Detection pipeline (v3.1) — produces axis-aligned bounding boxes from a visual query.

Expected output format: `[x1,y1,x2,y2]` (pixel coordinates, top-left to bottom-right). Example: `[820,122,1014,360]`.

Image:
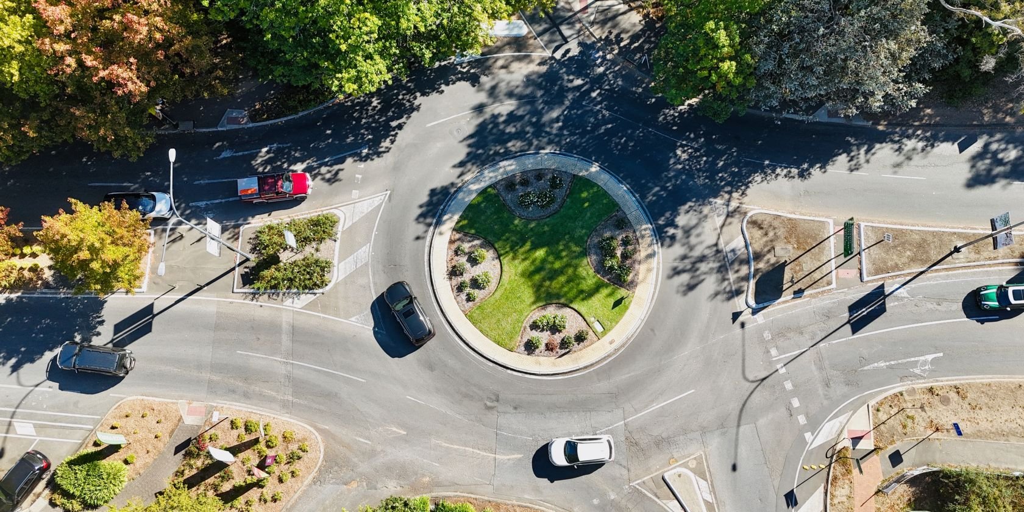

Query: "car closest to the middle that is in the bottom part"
[385,282,436,349]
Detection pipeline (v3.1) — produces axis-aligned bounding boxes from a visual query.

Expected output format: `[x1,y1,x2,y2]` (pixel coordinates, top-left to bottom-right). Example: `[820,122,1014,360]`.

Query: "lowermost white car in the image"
[548,433,615,471]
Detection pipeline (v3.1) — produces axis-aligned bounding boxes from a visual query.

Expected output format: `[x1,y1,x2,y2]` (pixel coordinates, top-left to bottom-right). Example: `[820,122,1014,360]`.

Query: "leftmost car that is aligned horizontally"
[56,341,138,378]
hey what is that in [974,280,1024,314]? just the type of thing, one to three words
car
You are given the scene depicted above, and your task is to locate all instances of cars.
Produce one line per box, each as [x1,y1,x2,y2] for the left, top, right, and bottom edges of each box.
[102,185,175,218]
[0,449,50,512]
[385,282,436,349]
[974,280,1024,314]
[548,433,615,471]
[56,341,138,378]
